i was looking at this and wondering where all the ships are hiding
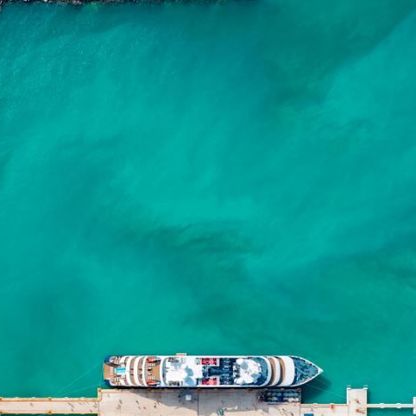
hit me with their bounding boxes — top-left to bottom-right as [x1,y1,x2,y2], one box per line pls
[103,353,324,388]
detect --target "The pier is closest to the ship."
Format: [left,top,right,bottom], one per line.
[98,387,302,416]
